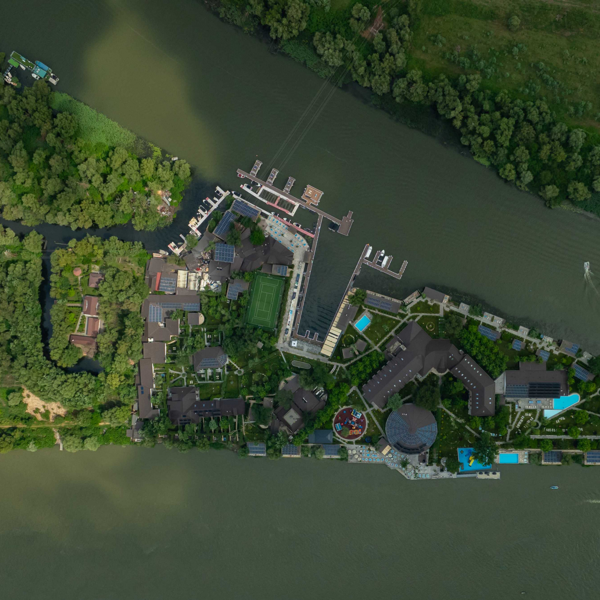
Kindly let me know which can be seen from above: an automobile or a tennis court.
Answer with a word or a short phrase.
tennis court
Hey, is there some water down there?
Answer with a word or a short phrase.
Yes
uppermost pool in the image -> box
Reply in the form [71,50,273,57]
[354,315,372,332]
